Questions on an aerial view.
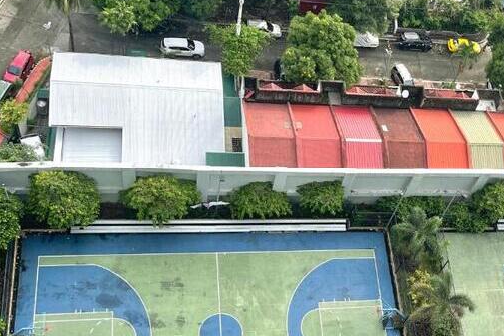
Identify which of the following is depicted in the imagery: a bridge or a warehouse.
warehouse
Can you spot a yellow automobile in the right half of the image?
Yes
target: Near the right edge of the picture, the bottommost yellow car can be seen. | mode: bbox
[446,34,482,52]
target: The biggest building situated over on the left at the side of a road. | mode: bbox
[49,50,227,162]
